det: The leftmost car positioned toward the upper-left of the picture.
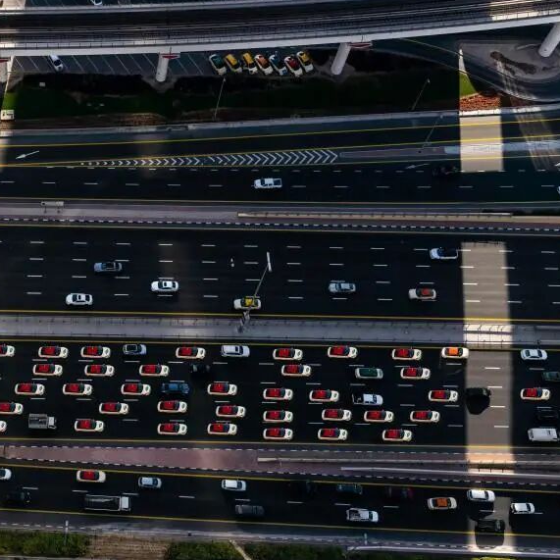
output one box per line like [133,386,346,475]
[47,54,65,71]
